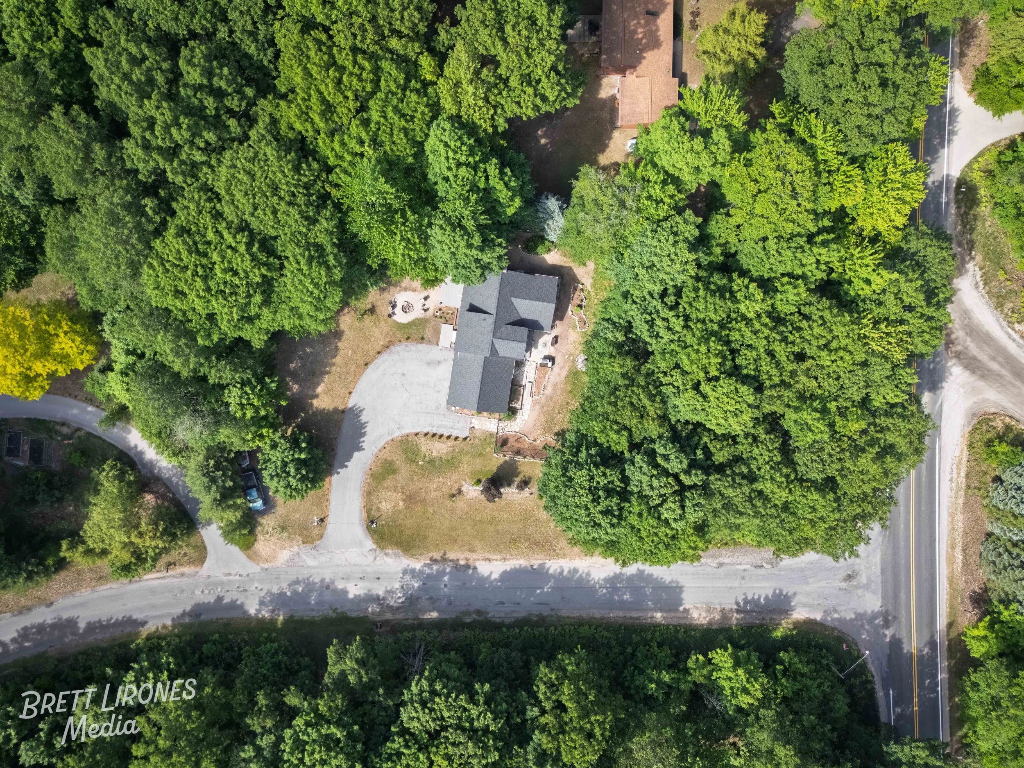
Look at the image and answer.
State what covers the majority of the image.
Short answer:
trees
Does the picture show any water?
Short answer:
No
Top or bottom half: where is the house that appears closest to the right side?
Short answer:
top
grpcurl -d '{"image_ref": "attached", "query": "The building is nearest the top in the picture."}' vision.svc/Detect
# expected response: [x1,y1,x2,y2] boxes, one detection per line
[601,0,678,130]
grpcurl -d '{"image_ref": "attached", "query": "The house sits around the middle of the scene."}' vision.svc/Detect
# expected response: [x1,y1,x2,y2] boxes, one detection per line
[447,266,559,415]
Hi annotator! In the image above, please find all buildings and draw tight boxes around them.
[601,0,678,130]
[447,266,559,415]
